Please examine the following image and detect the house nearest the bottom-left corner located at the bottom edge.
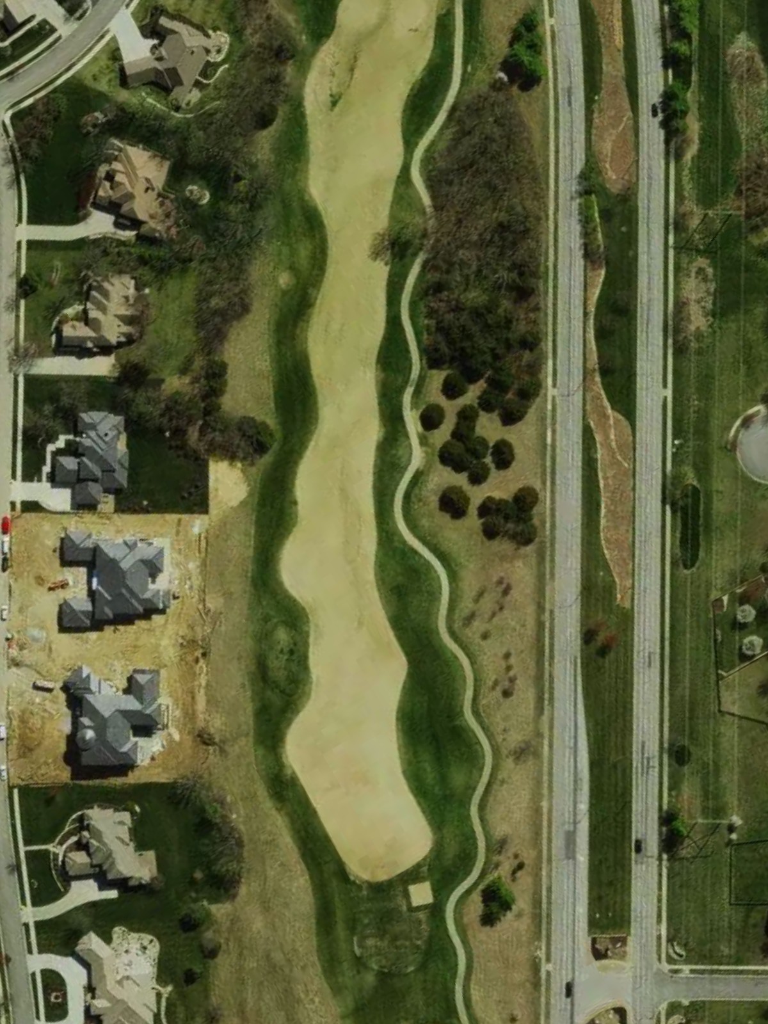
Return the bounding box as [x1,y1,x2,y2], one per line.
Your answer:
[74,929,159,1024]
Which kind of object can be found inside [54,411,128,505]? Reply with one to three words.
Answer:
house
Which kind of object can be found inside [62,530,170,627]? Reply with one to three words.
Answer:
house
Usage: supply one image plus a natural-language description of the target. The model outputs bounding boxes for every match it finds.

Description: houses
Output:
[54,411,128,505]
[59,274,140,346]
[62,530,170,627]
[74,929,159,1024]
[63,809,158,886]
[123,12,216,108]
[95,142,172,236]
[0,0,17,34]
[62,664,161,767]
